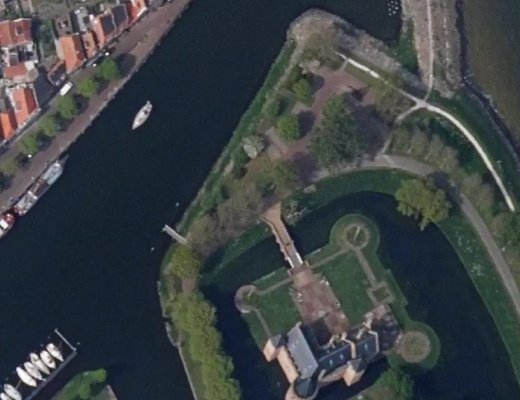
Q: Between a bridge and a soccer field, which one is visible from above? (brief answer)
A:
bridge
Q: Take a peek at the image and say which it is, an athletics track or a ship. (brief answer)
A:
ship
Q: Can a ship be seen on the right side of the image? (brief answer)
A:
No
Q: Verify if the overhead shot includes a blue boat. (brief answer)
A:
No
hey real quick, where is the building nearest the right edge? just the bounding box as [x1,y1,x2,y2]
[264,322,378,400]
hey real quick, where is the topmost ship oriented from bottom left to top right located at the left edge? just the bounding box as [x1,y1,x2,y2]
[12,155,69,216]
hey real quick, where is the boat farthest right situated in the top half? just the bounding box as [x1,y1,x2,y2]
[133,100,152,129]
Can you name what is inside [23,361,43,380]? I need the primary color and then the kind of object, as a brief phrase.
white boat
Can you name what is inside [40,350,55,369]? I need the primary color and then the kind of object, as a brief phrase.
white boat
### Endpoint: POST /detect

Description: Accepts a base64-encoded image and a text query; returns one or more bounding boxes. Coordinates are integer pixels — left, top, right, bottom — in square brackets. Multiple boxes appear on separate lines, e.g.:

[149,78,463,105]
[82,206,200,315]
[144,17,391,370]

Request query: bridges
[269,215,303,269]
